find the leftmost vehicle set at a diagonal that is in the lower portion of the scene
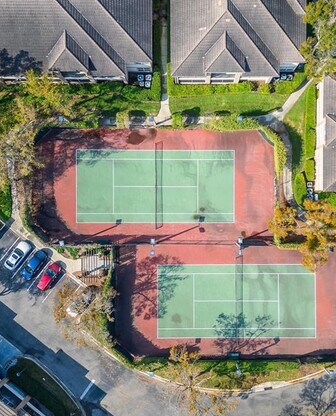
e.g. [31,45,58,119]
[4,239,32,271]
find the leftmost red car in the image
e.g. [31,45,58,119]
[36,261,63,291]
